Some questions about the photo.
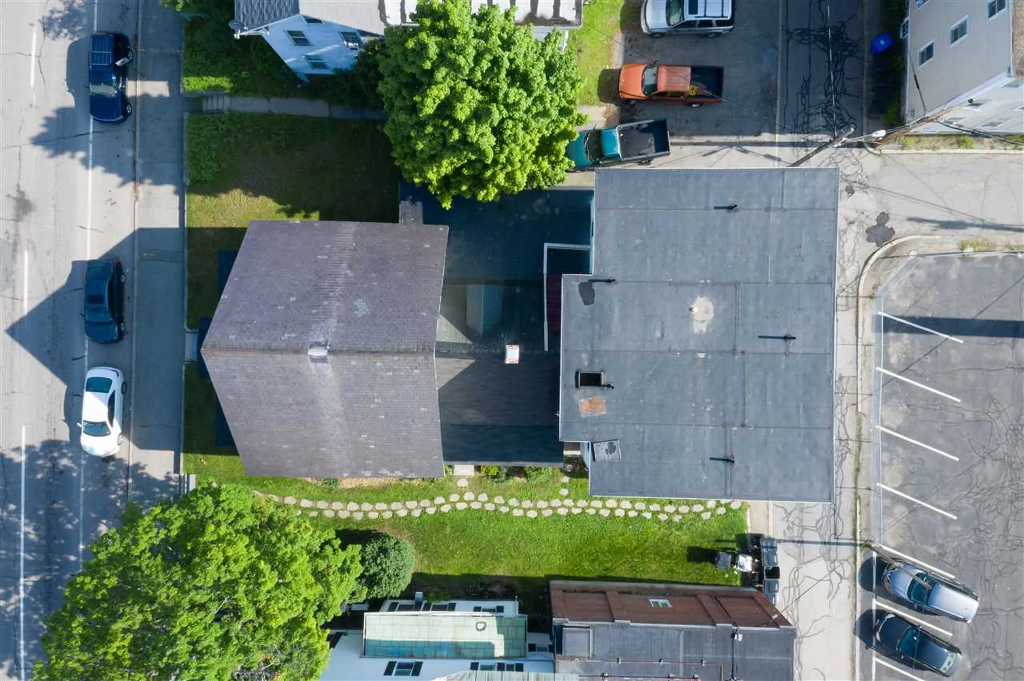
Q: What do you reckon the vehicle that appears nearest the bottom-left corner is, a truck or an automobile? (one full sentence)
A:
From above, the vehicle that appears nearest the bottom-left corner can be identified as an automobile.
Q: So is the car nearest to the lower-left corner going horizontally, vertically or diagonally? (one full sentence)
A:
I'd say the car nearest to the lower-left corner is aligned vertically in the picture.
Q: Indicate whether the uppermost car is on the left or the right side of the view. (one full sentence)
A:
The uppermost car is on the right side of the image.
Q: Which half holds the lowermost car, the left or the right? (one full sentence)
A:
The lowermost car appears in the right half of the scene.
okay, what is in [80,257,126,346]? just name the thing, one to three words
car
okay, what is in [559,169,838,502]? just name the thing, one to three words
building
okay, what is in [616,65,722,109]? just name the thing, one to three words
truck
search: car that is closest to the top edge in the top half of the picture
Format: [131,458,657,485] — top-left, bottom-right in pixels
[642,0,732,36]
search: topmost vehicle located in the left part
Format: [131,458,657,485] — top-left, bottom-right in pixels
[84,34,133,127]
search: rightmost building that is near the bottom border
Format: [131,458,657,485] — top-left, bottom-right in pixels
[549,578,797,681]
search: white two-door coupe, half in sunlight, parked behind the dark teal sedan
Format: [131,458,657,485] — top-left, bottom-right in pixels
[76,366,124,456]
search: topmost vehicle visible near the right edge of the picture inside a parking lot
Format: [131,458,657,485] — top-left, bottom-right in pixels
[883,565,977,623]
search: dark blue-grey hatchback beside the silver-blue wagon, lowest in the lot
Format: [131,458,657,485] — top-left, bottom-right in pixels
[872,615,963,677]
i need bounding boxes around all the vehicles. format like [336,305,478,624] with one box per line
[84,34,133,127]
[642,0,732,36]
[76,366,124,456]
[80,257,126,346]
[566,122,670,171]
[872,615,963,677]
[883,565,977,623]
[616,65,722,109]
